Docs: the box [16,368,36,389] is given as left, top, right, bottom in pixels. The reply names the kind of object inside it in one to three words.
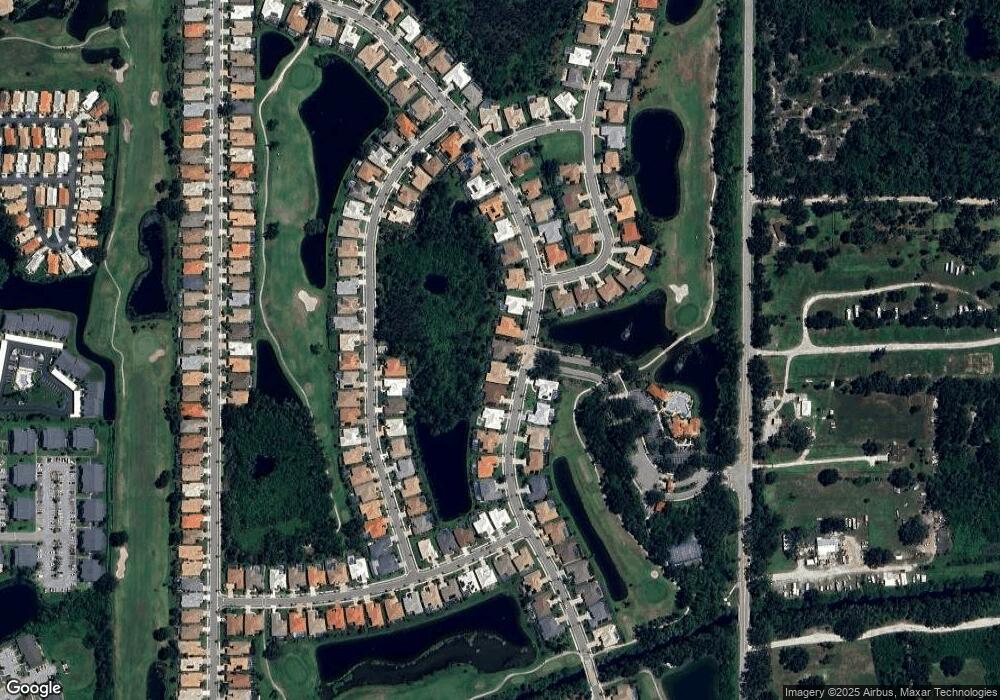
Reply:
swimming pool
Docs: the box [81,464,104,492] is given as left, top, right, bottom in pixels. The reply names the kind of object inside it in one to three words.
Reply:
building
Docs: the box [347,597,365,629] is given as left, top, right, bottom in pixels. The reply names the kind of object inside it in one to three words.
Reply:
house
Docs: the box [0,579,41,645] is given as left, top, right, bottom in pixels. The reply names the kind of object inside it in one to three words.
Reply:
pond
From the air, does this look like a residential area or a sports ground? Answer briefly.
residential area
